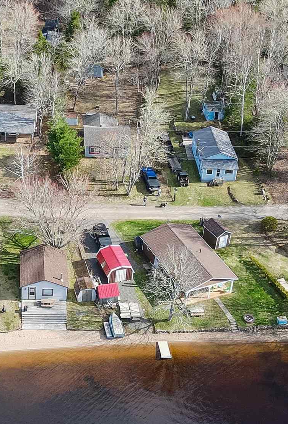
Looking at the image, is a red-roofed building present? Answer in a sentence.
Yes, I can see a red-roofed building in this picture.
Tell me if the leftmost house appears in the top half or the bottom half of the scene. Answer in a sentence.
Seen from above, the leftmost house lies in the top half of the view.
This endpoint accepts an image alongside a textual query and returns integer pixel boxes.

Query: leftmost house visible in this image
[0,110,38,143]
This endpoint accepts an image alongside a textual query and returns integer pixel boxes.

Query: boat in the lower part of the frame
[108,305,126,337]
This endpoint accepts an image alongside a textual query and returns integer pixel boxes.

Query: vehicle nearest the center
[142,171,162,190]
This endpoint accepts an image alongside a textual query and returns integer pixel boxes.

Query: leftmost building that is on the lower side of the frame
[20,243,69,324]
